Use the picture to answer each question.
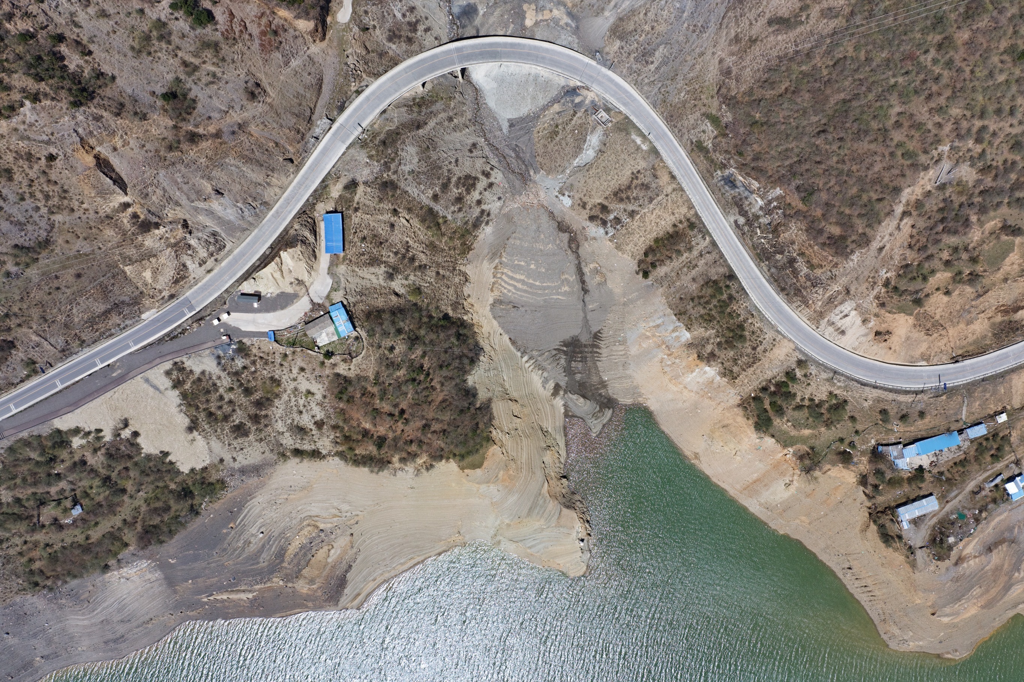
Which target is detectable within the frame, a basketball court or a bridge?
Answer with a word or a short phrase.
bridge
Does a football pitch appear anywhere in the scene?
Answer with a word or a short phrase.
No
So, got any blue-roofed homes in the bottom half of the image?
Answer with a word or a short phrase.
Yes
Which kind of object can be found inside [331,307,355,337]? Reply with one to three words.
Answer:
house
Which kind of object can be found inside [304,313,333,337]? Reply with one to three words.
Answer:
house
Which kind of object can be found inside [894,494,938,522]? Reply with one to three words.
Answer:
barn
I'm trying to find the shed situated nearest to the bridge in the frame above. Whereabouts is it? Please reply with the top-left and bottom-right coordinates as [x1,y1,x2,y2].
[323,213,345,254]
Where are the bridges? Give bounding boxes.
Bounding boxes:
[328,35,613,144]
